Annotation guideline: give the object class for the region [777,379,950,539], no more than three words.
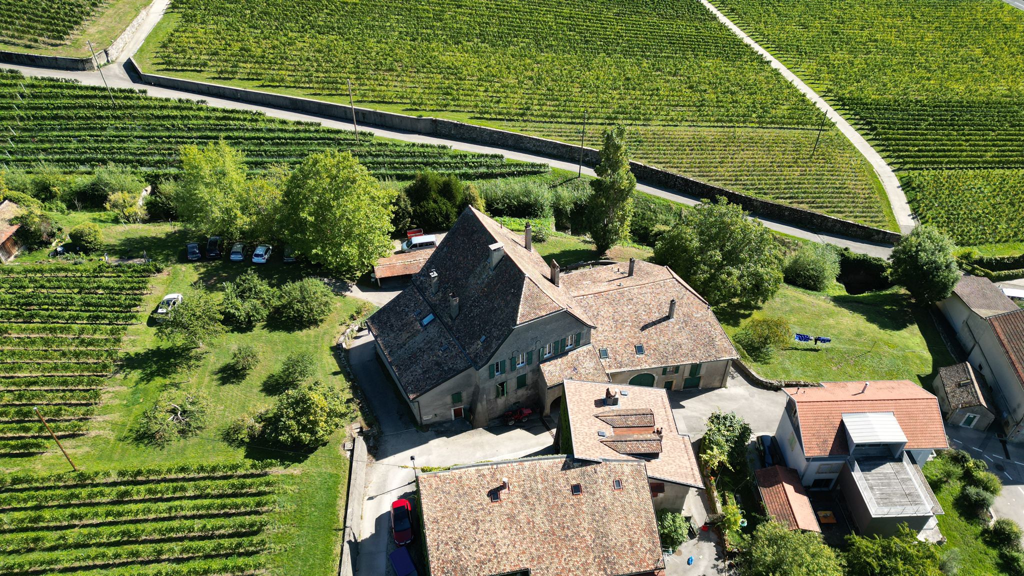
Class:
house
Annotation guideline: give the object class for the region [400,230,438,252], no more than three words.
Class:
vehicle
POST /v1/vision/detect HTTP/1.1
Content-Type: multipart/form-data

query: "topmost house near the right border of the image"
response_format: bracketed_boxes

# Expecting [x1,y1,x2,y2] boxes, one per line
[934,275,1024,360]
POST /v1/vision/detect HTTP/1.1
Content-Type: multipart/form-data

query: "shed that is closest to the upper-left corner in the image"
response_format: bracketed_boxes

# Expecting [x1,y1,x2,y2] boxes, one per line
[0,200,28,267]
